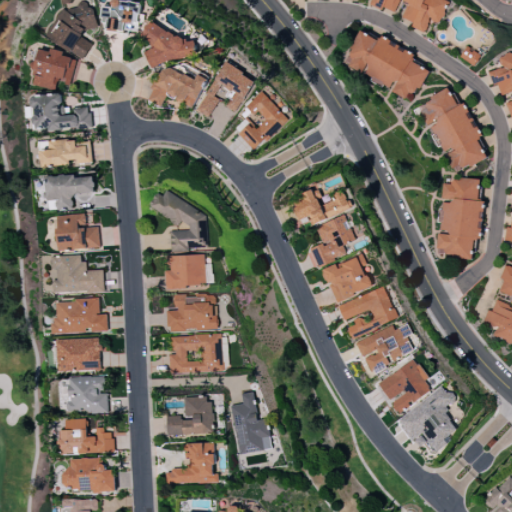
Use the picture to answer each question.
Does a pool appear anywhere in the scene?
Yes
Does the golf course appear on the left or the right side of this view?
left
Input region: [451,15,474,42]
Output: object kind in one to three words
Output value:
swimming pool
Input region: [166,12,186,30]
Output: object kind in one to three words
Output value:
swimming pool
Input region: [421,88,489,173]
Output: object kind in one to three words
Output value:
building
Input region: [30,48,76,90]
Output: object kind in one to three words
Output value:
house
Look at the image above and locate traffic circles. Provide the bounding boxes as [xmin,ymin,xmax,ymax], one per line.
[94,62,136,104]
